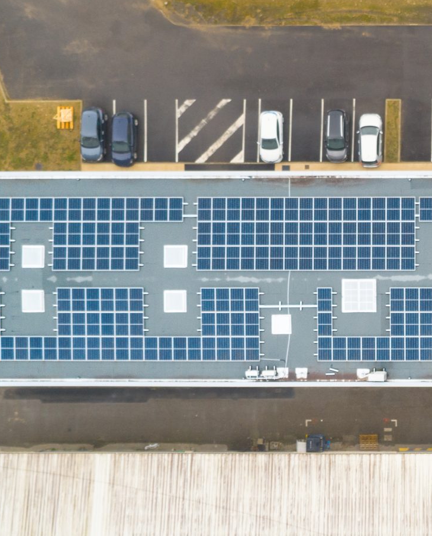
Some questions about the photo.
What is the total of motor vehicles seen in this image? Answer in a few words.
5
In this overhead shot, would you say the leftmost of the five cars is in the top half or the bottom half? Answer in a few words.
top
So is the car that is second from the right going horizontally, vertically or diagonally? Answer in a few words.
vertically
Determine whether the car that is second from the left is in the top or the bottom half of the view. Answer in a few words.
top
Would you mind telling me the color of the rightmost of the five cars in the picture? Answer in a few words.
white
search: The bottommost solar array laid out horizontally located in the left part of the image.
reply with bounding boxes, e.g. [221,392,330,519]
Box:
[0,288,265,361]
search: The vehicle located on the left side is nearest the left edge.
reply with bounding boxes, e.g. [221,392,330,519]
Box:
[77,106,109,162]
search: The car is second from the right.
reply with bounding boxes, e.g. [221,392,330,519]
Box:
[322,108,350,164]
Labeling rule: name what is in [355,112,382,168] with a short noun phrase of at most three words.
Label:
car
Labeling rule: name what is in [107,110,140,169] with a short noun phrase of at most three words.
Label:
car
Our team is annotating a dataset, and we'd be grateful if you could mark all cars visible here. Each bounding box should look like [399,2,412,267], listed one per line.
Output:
[322,108,350,164]
[107,110,140,169]
[257,110,285,163]
[355,112,382,168]
[77,106,109,162]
